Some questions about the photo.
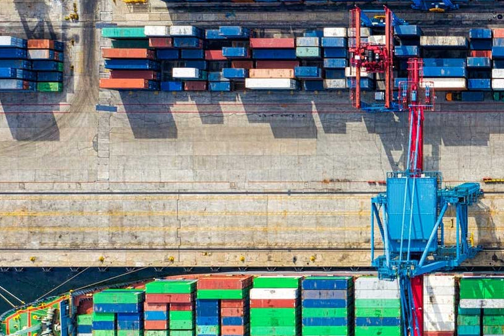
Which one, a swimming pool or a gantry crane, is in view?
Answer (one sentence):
Visible in the photo is a gantry crane.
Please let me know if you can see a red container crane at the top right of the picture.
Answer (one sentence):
Yes, at the top right of the picture there is a red container crane.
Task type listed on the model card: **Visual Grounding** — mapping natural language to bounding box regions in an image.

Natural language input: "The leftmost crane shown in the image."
[349,6,419,113]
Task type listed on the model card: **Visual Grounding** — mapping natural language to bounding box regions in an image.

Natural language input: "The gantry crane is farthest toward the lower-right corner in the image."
[367,58,492,336]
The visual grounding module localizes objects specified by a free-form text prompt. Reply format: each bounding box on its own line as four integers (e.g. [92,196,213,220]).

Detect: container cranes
[349,6,419,113]
[404,0,467,13]
[367,58,492,336]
